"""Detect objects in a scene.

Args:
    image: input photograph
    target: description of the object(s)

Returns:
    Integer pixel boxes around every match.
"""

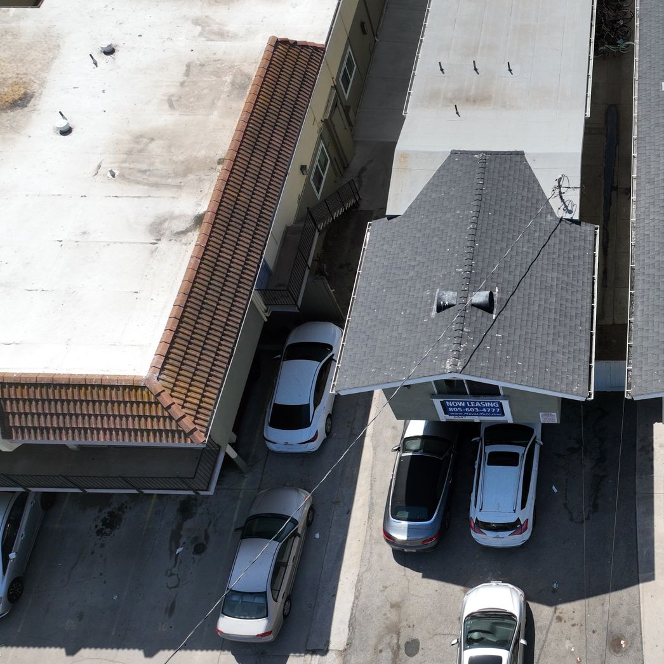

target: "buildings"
[0,0,388,495]
[330,0,601,424]
[622,0,664,424]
